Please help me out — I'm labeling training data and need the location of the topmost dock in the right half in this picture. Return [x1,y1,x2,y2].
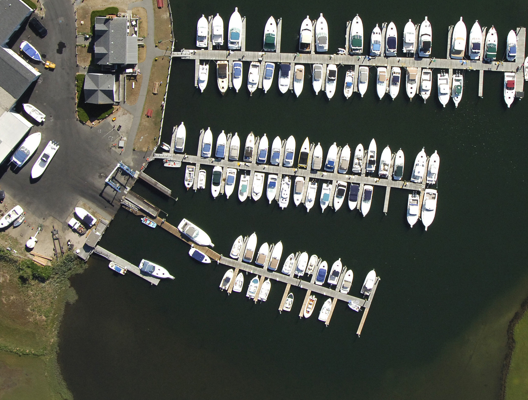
[182,16,528,96]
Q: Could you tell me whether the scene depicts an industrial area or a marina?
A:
marina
